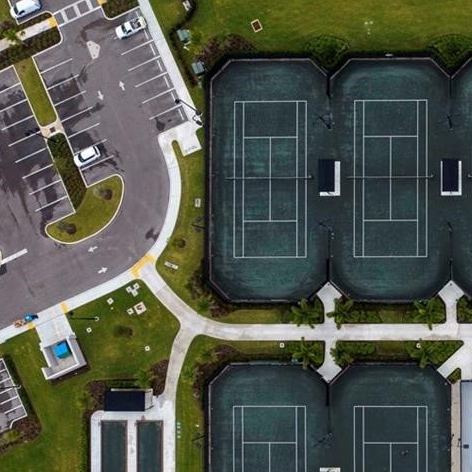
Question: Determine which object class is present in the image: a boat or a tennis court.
tennis court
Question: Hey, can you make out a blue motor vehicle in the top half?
No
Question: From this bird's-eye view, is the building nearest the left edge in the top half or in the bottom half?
bottom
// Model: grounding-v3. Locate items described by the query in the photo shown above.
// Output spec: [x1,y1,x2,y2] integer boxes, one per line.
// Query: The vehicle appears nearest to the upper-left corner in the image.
[10,0,43,20]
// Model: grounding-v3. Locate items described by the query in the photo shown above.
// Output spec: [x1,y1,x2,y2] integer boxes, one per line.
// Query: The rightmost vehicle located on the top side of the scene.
[114,16,148,39]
